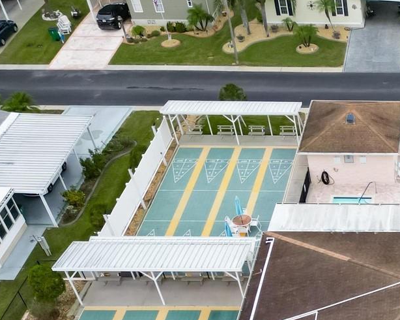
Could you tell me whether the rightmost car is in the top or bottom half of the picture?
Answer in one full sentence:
The top half of the photo is where the rightmost car is.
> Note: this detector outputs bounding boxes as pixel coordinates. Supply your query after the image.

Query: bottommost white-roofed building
[51,238,253,305]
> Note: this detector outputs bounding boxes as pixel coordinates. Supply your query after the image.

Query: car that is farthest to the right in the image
[97,0,127,24]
